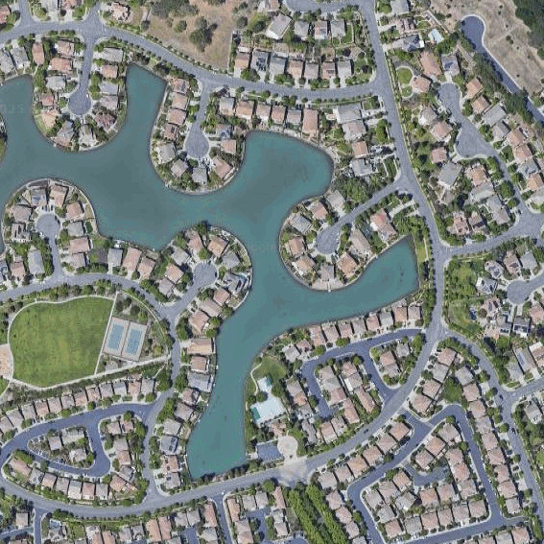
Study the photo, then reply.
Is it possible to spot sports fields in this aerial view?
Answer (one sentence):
Yes, I can see a sports field in this picture.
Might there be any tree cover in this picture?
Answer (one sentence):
Yes, there's tree cover in this view.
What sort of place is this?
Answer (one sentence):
The picture captures a residential area.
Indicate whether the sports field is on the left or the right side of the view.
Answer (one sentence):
You can find the sports field on the left side of the picture.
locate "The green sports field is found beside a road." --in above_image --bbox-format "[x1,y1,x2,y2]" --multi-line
[9,299,113,388]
